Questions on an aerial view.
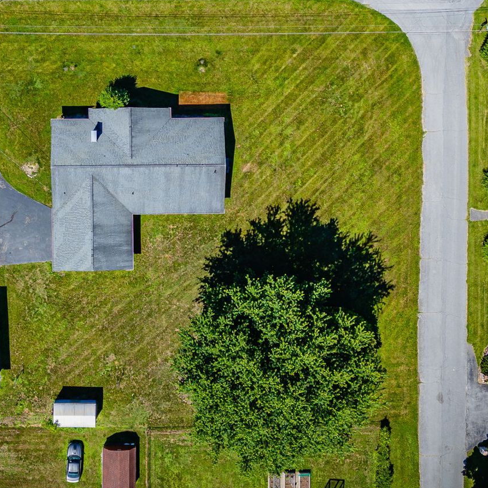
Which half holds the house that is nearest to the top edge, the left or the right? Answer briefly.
left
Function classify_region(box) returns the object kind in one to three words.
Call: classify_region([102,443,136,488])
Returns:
shed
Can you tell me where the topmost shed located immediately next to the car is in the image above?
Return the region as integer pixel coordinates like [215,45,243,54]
[53,398,96,426]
